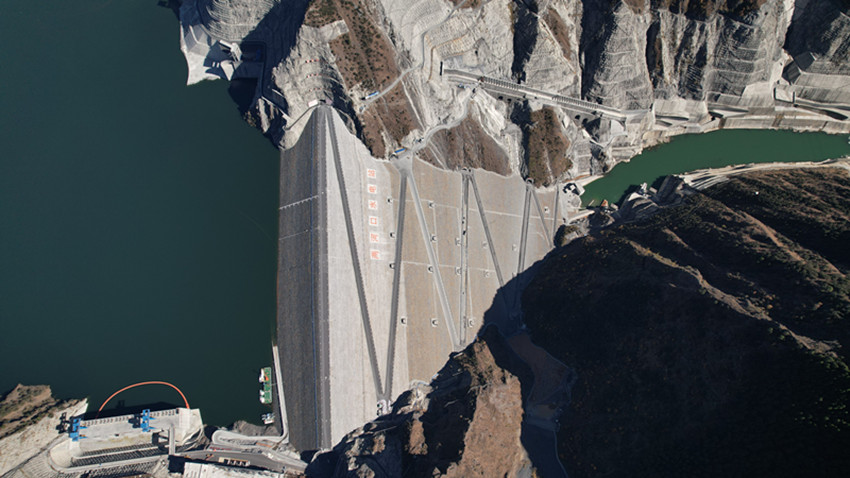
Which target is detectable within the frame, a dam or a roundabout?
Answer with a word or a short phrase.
dam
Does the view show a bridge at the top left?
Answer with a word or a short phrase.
No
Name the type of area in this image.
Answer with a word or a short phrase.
port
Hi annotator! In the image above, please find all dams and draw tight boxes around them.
[276,104,571,447]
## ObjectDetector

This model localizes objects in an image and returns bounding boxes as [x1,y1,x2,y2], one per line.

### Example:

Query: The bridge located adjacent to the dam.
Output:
[444,69,626,126]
